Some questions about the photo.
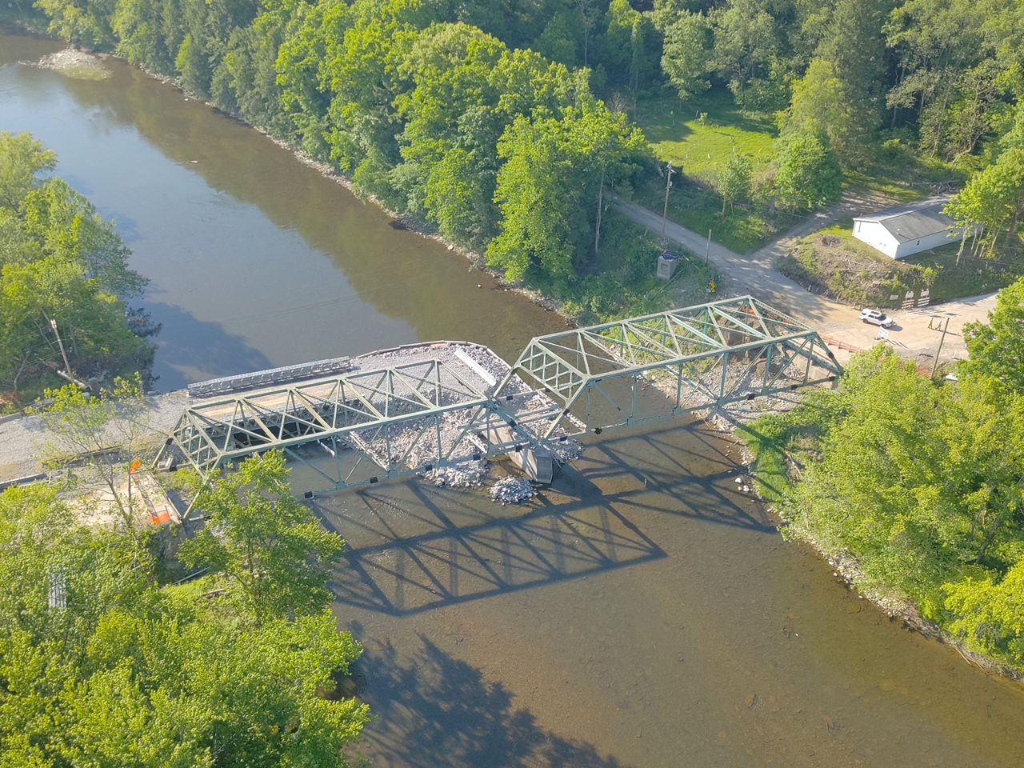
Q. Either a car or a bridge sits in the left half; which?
bridge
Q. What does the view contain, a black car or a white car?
white car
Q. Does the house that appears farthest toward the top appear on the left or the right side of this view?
right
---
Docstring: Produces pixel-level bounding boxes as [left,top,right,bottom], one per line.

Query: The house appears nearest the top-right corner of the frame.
[852,195,976,258]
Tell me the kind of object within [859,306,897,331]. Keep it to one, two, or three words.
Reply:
car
